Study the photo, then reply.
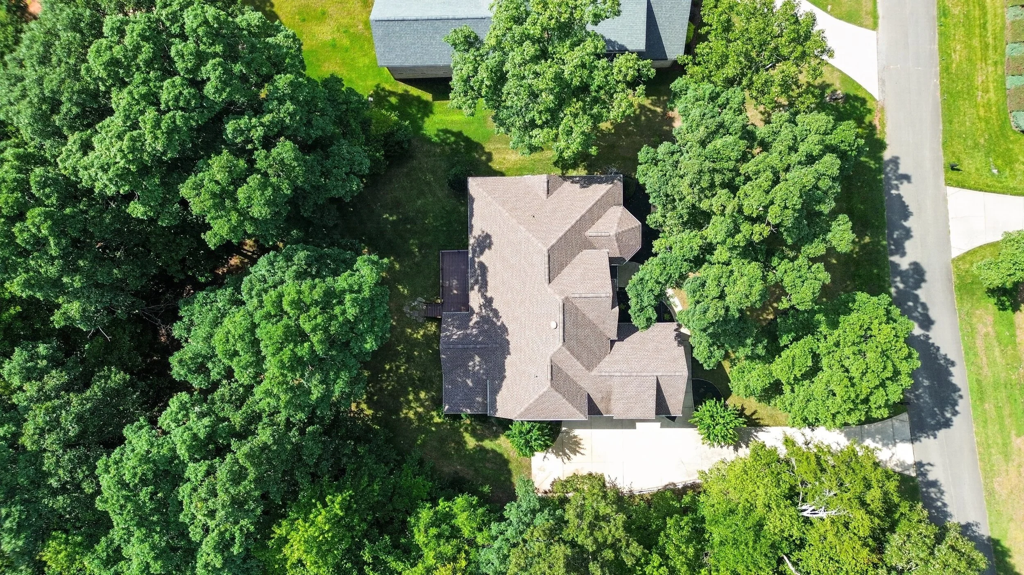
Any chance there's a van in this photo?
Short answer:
No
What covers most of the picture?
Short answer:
trees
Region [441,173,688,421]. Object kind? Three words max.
house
